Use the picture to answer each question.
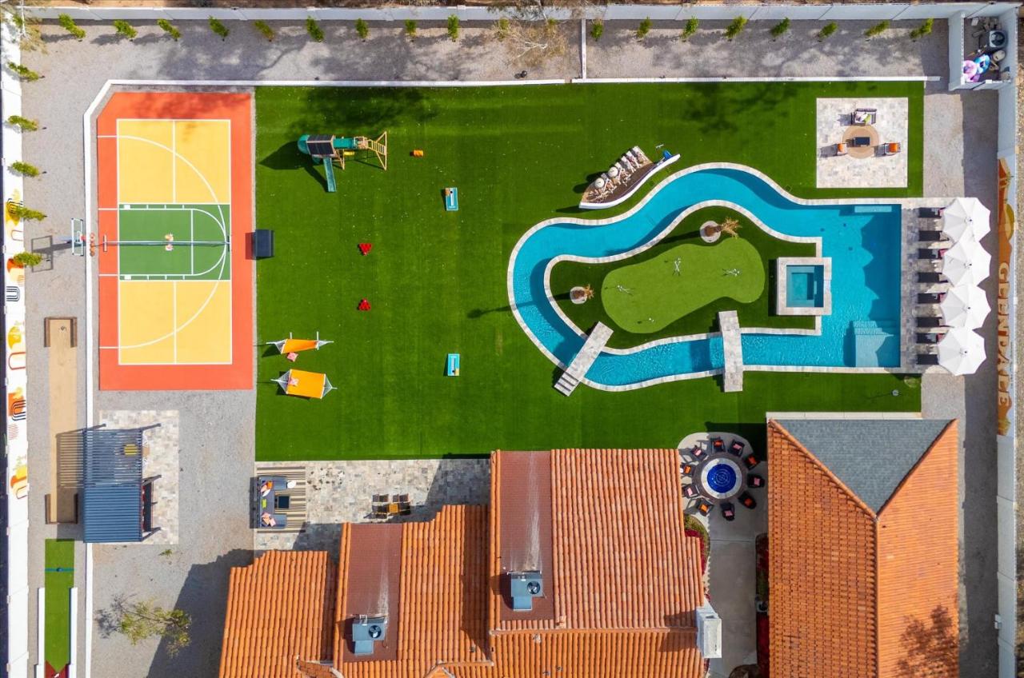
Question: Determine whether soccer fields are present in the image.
No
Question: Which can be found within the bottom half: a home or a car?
home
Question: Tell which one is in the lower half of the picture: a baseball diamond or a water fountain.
water fountain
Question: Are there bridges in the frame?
Yes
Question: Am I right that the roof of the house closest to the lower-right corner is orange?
Yes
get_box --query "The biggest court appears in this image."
[97,92,253,391]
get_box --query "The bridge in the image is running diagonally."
[556,322,613,395]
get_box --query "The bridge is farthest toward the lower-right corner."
[717,311,742,391]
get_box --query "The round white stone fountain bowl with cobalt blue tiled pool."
[703,458,743,498]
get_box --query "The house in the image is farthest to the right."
[766,420,961,678]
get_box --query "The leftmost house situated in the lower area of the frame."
[219,449,722,678]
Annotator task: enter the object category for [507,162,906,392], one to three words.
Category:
swimming pool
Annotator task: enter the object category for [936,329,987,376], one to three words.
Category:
umbrella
